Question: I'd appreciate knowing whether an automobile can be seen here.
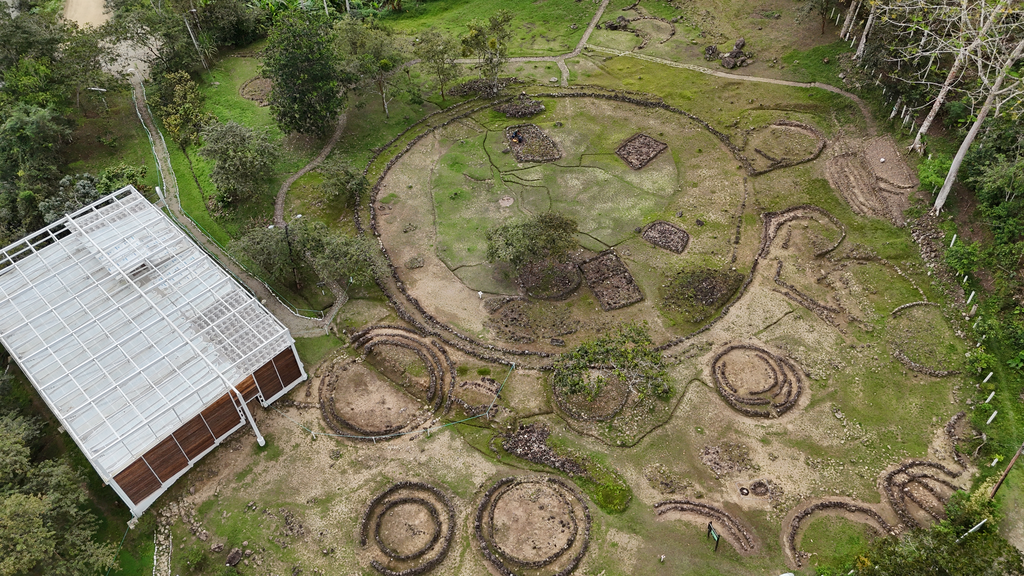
No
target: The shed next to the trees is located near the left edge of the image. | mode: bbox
[0,187,309,522]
